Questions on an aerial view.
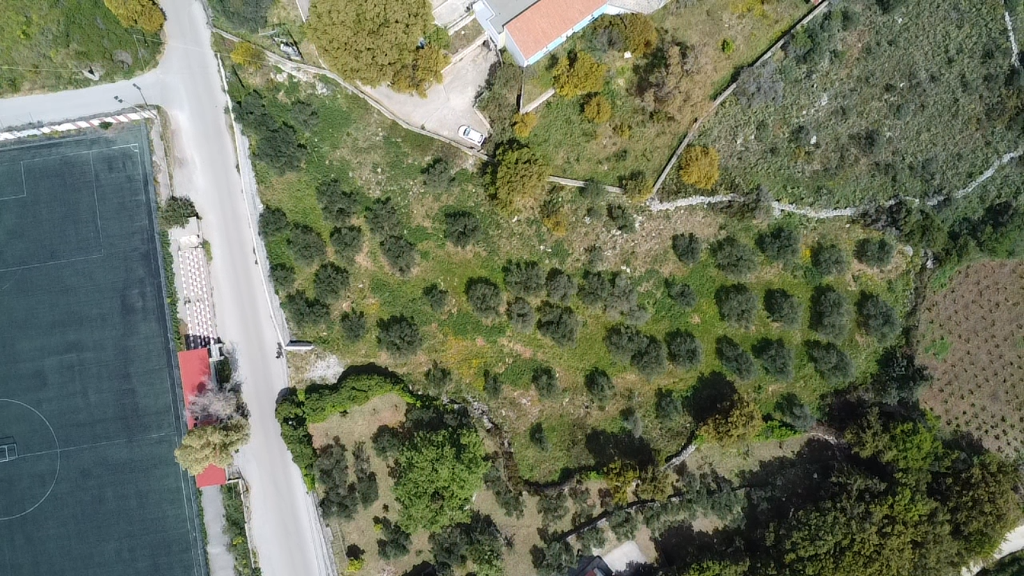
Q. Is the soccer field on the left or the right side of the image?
left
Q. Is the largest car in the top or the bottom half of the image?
top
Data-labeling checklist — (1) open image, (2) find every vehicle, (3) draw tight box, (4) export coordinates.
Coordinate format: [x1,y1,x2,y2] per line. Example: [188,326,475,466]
[277,344,282,357]
[458,125,487,147]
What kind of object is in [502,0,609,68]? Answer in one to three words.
house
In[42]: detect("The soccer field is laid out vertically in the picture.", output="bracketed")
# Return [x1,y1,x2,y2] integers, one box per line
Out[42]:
[0,122,207,576]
